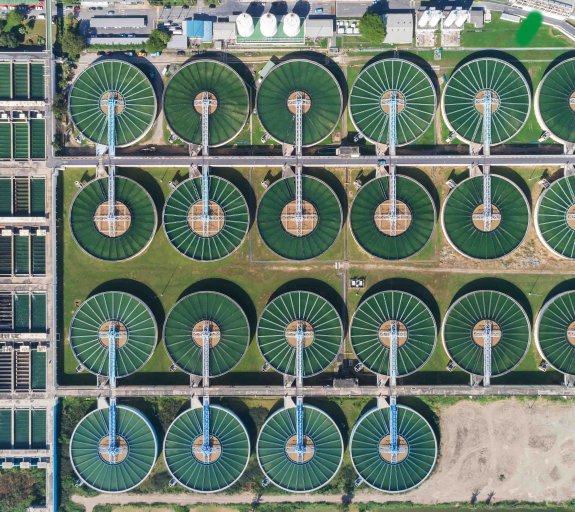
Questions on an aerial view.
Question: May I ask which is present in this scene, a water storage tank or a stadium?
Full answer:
Visible in the photo is a water storage tank.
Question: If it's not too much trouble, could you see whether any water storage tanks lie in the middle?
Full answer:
Yes, I can see a water storage tank in the middle.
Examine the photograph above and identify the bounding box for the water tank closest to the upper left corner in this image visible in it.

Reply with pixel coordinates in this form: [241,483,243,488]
[69,58,158,156]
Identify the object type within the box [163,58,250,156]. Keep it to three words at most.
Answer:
water tank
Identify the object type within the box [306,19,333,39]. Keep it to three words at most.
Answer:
building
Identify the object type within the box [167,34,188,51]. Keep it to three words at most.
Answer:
building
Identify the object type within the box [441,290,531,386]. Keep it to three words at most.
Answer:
water tank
